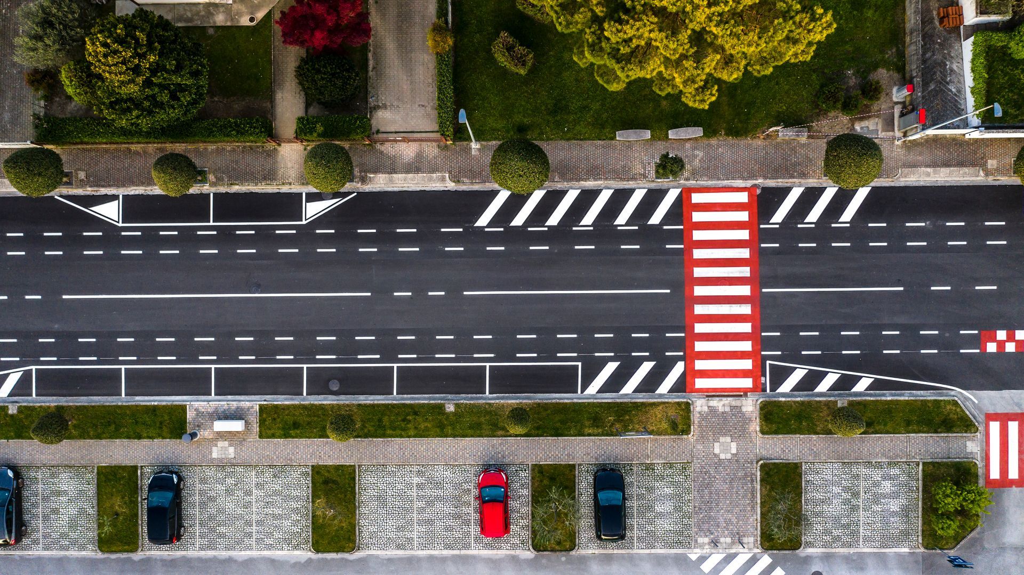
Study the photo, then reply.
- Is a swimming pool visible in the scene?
No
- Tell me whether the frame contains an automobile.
Yes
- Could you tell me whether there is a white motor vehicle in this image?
No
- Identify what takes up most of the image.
paved ground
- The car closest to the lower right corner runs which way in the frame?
up and down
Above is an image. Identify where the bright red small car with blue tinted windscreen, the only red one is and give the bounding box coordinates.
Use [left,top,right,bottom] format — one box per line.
[474,465,514,541]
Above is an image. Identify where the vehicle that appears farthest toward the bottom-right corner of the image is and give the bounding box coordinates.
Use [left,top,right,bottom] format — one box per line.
[591,465,631,544]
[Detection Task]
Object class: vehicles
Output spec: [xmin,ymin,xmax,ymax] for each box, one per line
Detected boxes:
[0,465,29,550]
[591,465,631,544]
[141,469,185,546]
[474,465,514,541]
